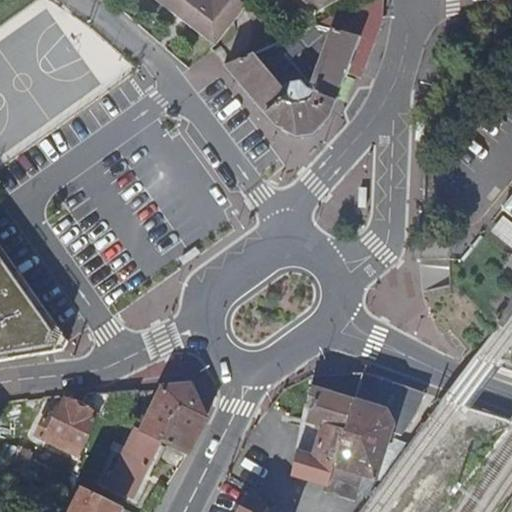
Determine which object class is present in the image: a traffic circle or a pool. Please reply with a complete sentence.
It is a traffic circle that can be seen here.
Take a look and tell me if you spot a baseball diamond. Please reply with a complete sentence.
No, I find no baseball diamond anywhere in the image.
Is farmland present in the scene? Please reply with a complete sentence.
No, the picture contains no farmland.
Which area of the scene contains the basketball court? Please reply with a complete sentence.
The basketball court sits in the top left section of the image.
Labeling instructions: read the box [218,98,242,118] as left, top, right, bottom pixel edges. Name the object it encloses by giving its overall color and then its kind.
white vehicle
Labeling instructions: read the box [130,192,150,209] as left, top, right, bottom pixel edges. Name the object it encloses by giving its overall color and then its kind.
gray car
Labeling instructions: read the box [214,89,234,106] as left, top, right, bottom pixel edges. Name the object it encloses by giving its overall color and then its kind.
gray car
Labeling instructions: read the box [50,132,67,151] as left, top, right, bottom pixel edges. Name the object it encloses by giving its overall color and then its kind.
white car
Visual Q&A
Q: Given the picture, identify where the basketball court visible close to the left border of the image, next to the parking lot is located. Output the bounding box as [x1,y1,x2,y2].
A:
[0,0,134,164]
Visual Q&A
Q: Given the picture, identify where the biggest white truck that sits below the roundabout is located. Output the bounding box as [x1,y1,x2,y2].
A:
[239,457,268,478]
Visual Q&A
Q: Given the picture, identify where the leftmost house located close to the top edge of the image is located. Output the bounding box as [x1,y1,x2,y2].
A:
[156,0,244,43]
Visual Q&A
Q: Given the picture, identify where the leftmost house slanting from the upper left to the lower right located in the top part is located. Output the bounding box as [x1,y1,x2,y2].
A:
[224,52,282,110]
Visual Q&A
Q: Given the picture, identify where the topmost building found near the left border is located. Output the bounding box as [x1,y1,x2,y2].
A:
[0,244,68,364]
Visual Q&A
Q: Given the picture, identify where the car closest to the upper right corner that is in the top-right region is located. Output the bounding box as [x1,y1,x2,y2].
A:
[483,124,502,138]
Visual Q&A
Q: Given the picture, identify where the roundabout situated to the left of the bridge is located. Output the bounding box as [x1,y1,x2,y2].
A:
[226,266,322,352]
